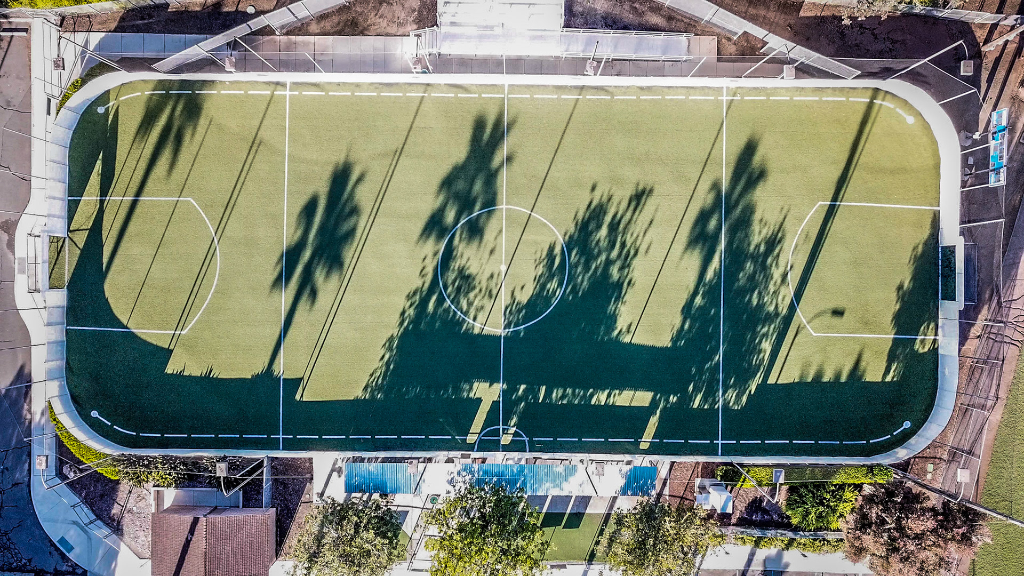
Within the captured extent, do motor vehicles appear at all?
No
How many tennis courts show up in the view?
none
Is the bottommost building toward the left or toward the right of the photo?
left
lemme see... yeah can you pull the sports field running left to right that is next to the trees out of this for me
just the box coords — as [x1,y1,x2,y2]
[50,80,957,457]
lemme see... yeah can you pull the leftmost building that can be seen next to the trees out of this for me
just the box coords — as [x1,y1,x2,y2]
[151,504,278,576]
